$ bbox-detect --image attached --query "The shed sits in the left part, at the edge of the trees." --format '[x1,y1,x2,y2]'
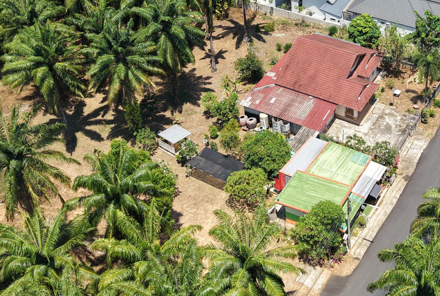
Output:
[154,121,192,156]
